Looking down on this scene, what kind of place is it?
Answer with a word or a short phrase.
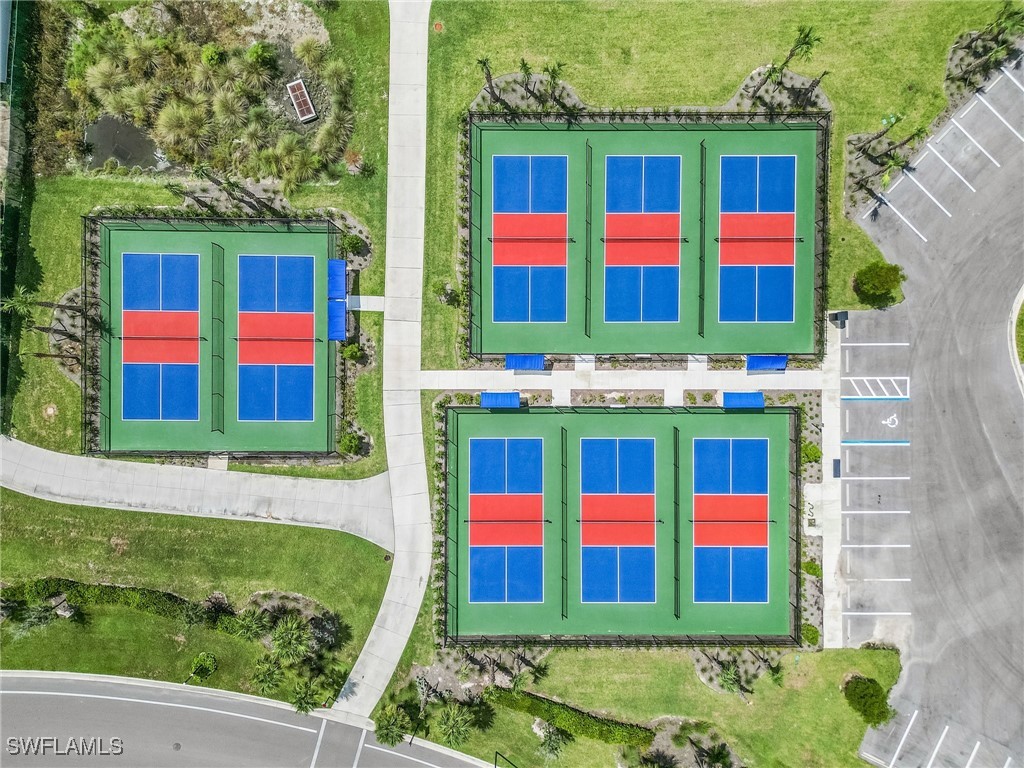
sports ground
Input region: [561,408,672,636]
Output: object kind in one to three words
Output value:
sports court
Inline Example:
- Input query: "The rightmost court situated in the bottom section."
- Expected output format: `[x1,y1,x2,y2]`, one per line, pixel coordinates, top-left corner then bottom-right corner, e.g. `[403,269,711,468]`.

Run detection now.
[671,408,790,636]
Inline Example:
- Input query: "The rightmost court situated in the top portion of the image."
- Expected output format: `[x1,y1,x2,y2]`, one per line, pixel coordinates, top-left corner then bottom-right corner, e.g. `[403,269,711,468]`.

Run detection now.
[697,123,816,352]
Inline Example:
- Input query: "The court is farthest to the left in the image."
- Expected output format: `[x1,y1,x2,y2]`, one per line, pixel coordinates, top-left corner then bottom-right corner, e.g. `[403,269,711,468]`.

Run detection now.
[99,222,218,451]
